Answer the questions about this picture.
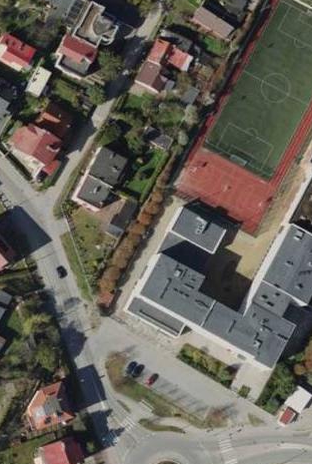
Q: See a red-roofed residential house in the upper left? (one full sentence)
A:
Yes, you'll find a red-roofed residential house in the upper left.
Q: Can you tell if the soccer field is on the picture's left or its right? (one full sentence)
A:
The soccer field appears in the right half of the scene.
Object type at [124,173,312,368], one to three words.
building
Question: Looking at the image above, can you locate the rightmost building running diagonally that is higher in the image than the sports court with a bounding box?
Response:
[192,5,234,40]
